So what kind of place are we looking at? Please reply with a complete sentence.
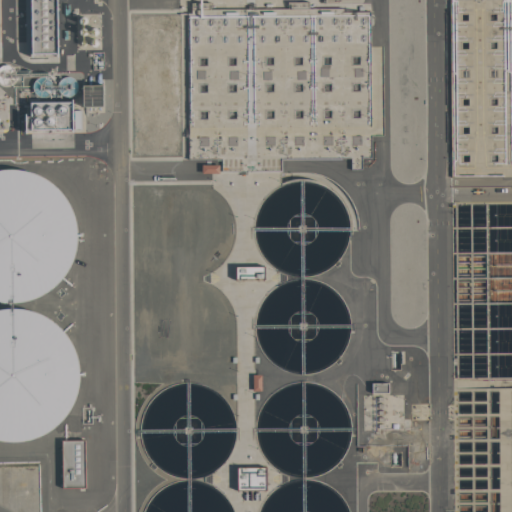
What you see here is an industrial area.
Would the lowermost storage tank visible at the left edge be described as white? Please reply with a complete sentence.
Yes, the lowermost storage tank visible at the left edge is white.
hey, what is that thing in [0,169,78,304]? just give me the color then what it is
white storage tank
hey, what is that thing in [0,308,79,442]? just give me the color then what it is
white storage tank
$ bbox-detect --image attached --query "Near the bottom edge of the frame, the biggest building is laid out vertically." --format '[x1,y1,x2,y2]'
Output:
[63,424,86,490]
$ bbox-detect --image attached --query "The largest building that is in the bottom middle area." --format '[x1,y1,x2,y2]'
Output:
[238,468,267,492]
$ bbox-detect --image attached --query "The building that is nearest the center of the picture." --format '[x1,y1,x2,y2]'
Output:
[238,268,266,282]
